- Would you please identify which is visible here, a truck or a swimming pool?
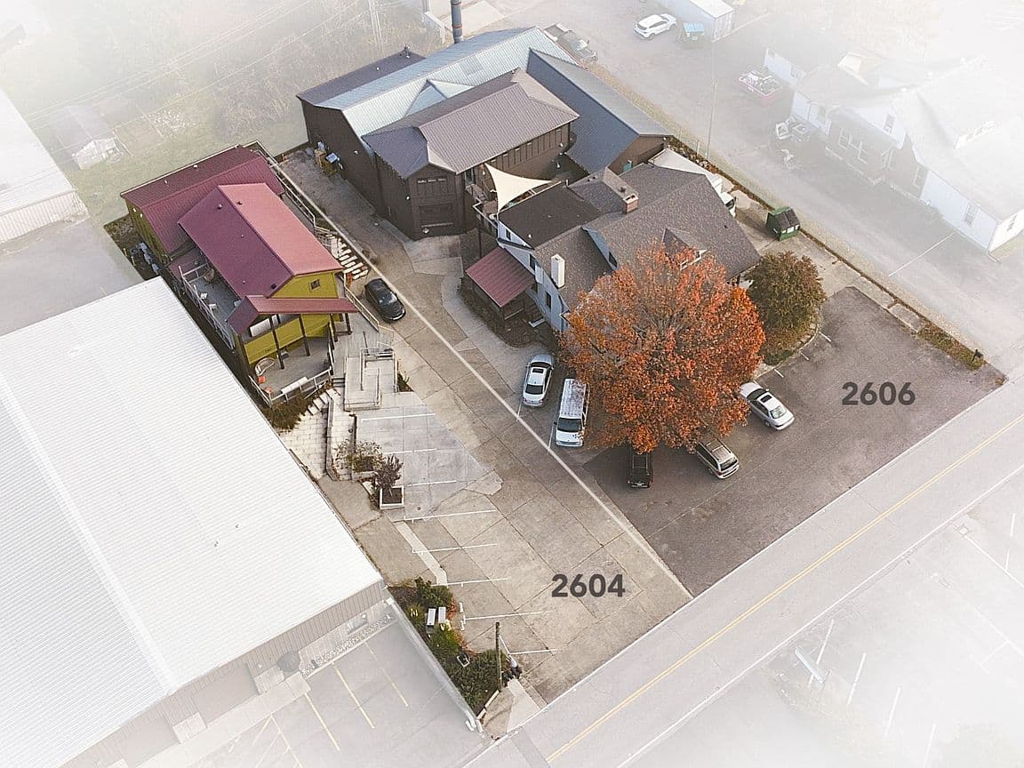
truck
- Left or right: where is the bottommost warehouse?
left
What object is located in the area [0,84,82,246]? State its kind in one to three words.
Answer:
building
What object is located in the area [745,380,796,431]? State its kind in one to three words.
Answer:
car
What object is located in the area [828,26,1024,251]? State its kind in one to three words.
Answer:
house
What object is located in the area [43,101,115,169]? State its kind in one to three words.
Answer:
shed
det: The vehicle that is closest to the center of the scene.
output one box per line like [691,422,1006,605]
[522,354,554,406]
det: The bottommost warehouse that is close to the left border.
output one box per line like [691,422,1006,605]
[0,278,386,768]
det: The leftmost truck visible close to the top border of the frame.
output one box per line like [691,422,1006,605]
[544,25,593,61]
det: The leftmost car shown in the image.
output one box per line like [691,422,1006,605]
[366,276,408,321]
